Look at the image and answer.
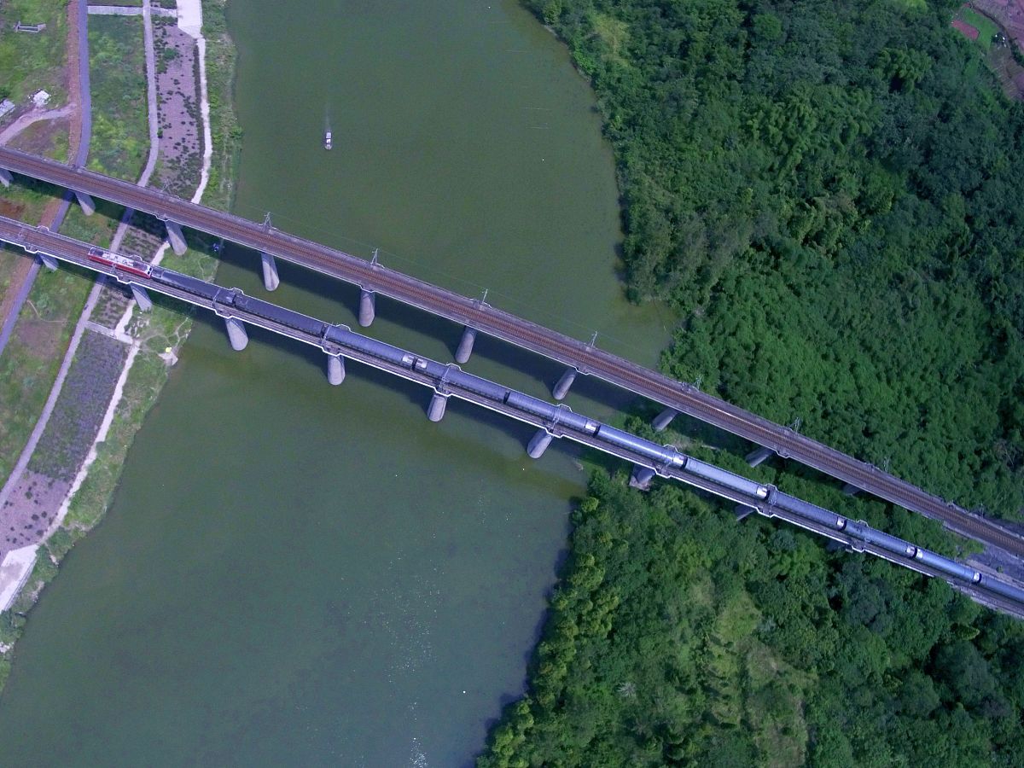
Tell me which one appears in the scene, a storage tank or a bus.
bus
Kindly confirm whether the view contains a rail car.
Yes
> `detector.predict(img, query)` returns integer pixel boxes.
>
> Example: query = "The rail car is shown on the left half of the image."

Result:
[89,245,156,278]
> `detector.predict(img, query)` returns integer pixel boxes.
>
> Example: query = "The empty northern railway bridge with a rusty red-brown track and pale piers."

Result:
[0,144,948,524]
